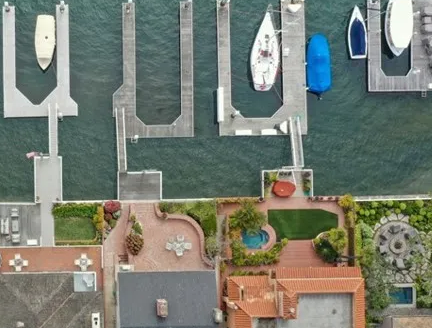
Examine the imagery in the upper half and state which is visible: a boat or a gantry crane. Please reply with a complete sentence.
The one visible in the upper half is a boat.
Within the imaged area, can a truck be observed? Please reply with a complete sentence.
No, this view has no truck in it.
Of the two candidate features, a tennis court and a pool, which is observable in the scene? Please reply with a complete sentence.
It is a pool that can be seen here.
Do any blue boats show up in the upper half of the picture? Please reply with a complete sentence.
Yes, a blue boat can be seen in the upper half of the picture.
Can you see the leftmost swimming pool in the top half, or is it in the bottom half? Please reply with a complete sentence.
The leftmost swimming pool sits in the bottom half of the picture.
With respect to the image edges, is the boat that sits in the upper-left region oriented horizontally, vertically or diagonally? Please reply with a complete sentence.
I'd say the boat that sits in the upper-left region is aligned vertically in the picture.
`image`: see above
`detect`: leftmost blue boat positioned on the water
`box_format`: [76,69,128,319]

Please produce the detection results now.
[304,34,331,97]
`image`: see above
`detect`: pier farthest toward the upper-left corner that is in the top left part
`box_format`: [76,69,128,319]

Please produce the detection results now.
[2,0,78,118]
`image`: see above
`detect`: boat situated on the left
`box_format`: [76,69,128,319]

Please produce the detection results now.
[34,13,57,72]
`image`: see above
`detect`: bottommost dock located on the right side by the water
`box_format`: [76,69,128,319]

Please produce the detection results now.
[258,169,316,201]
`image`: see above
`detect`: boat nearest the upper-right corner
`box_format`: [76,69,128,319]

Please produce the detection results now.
[385,0,415,57]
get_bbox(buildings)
[224,267,365,328]
[117,271,222,328]
[0,272,106,328]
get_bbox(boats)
[304,34,331,97]
[348,6,367,60]
[34,13,57,72]
[234,4,299,100]
[385,0,415,57]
